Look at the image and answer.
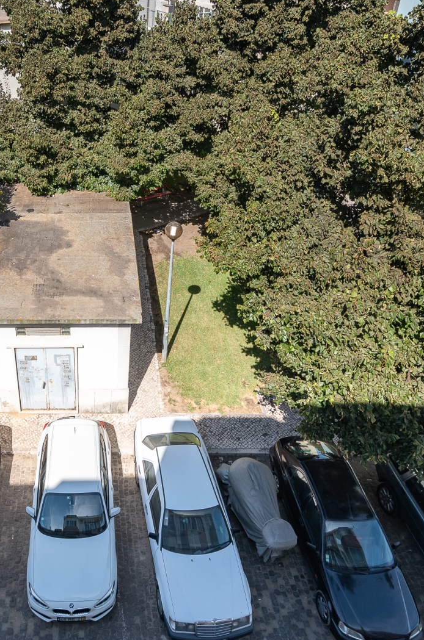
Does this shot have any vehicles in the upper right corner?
No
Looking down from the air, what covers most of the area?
trees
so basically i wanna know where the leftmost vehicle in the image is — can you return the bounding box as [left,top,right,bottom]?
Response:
[28,427,118,625]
